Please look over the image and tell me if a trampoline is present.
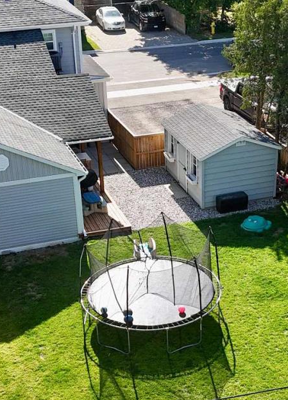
Yes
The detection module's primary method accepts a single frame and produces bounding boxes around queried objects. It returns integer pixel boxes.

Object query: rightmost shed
[158,101,286,208]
